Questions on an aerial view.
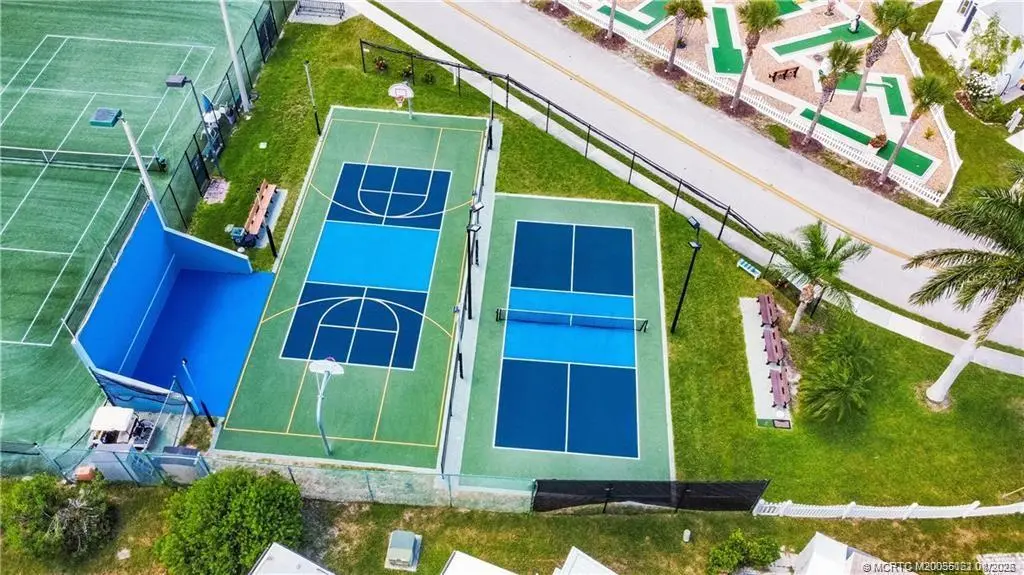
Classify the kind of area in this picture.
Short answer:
sports ground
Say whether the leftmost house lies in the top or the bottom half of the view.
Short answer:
bottom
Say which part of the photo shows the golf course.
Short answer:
top right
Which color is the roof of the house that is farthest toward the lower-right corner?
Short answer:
white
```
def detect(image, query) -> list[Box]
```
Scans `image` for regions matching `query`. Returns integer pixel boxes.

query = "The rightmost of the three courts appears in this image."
[459,192,676,482]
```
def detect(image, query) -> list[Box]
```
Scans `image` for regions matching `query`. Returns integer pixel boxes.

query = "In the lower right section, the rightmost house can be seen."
[795,532,866,575]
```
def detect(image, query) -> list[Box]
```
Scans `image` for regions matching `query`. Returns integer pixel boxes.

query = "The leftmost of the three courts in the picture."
[0,0,290,486]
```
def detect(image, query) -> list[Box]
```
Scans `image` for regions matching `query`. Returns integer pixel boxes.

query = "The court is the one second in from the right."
[205,106,487,470]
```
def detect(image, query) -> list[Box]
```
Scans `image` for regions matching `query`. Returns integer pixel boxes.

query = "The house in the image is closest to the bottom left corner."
[253,539,341,575]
